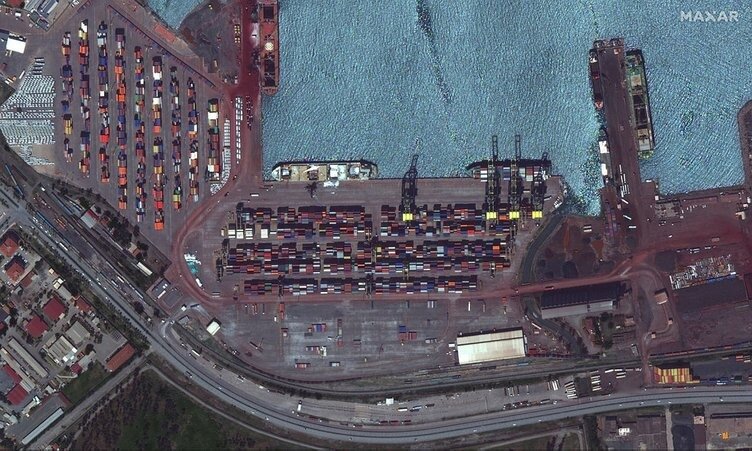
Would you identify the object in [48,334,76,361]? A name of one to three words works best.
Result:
building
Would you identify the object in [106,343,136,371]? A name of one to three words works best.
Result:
building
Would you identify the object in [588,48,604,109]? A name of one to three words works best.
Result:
ship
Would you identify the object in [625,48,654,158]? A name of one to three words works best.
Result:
ship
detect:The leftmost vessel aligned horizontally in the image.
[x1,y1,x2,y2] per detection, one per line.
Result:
[272,162,379,179]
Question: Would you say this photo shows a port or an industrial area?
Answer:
port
